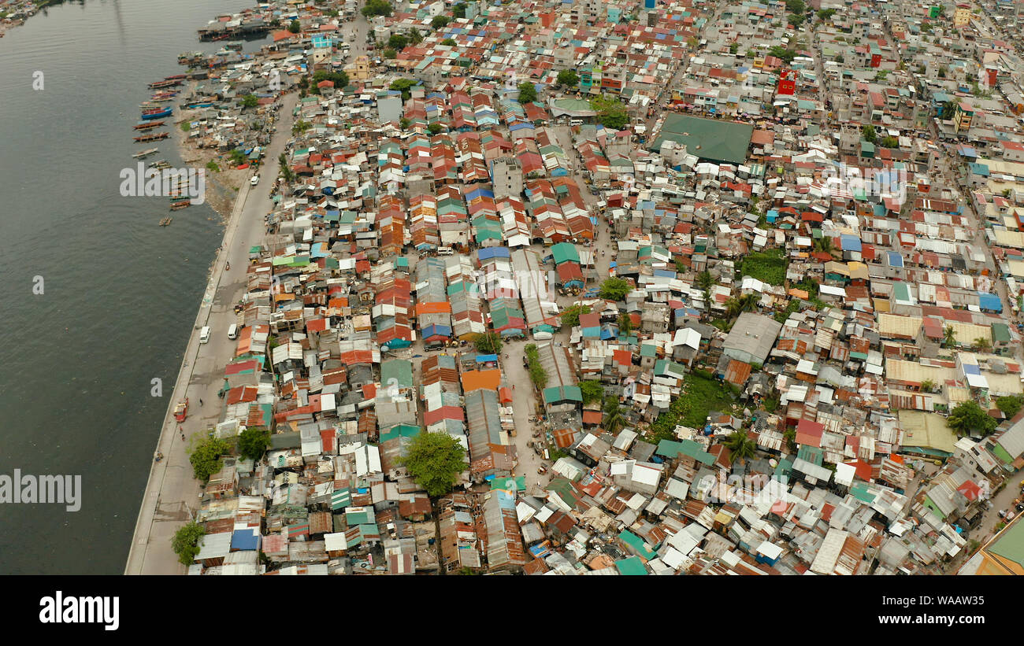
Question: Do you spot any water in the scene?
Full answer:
Yes, water can be seen from above here.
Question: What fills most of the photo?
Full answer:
The scene is dominated by buildings.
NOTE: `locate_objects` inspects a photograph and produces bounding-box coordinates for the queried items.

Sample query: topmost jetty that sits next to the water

[197,17,268,43]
